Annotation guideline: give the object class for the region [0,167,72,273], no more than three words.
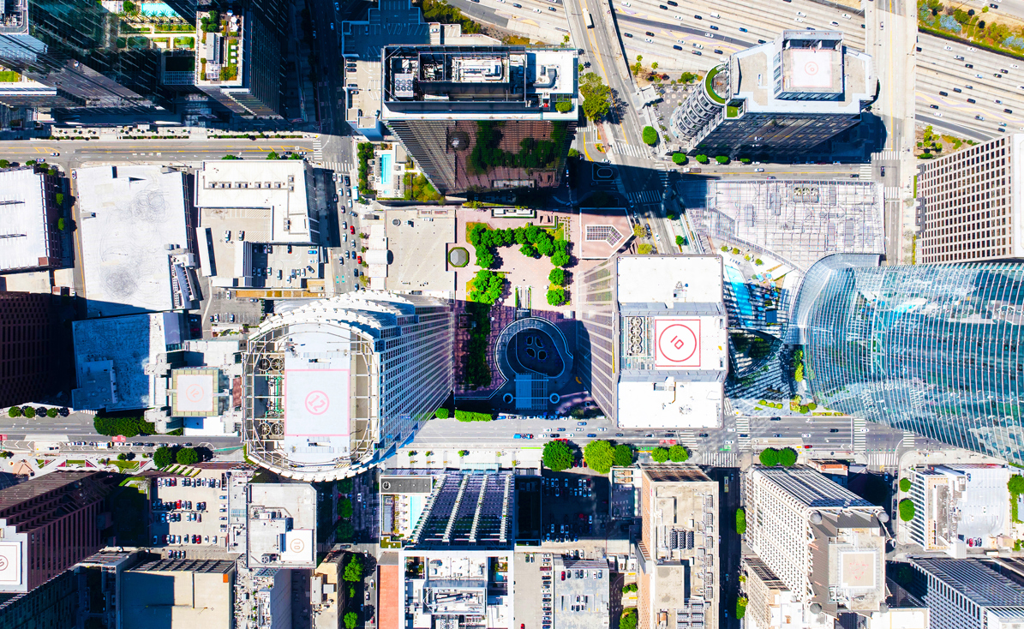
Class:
building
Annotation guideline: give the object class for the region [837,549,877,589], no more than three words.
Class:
helipad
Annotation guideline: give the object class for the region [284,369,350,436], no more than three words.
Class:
helipad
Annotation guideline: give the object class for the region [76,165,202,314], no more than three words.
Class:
building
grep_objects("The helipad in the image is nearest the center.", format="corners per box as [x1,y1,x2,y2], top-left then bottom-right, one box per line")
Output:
[655,317,701,368]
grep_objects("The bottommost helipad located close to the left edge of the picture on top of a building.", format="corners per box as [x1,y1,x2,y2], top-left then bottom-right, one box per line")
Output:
[0,540,23,584]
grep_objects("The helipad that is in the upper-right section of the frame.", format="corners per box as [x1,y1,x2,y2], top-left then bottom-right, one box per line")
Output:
[791,49,833,88]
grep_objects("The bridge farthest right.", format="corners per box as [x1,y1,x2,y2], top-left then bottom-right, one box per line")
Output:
[863,0,917,159]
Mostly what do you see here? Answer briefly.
buildings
